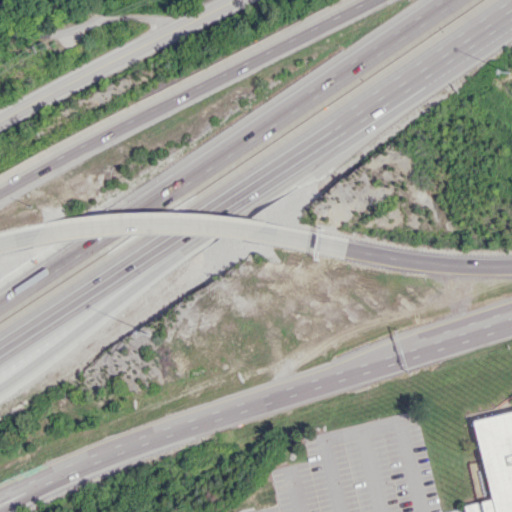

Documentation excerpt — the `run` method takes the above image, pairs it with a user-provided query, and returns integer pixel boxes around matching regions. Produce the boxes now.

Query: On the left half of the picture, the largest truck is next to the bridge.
[8,270,49,299]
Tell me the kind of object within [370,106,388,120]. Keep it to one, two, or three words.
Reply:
vehicle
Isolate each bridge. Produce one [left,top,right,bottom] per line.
[0,212,349,260]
